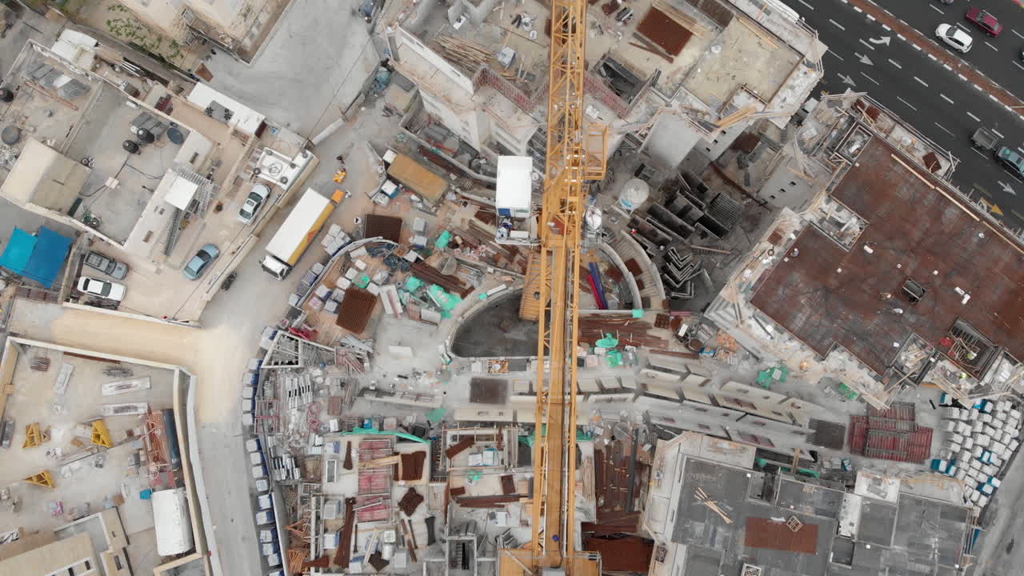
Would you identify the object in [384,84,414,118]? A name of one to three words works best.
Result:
shed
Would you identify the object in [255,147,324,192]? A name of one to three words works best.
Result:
building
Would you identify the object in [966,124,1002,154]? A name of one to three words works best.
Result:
truck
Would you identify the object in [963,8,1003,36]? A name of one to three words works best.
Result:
car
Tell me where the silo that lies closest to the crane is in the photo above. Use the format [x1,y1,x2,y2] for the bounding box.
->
[611,182,648,220]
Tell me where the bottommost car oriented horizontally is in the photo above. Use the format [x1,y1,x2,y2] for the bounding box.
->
[76,276,129,302]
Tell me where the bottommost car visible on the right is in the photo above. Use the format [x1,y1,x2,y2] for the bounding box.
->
[994,146,1024,180]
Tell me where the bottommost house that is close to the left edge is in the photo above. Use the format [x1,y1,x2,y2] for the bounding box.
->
[0,503,150,576]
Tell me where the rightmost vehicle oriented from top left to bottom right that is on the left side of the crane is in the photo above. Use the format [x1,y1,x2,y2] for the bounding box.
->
[382,145,451,204]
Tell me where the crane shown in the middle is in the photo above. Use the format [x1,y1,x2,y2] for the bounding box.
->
[495,0,610,576]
